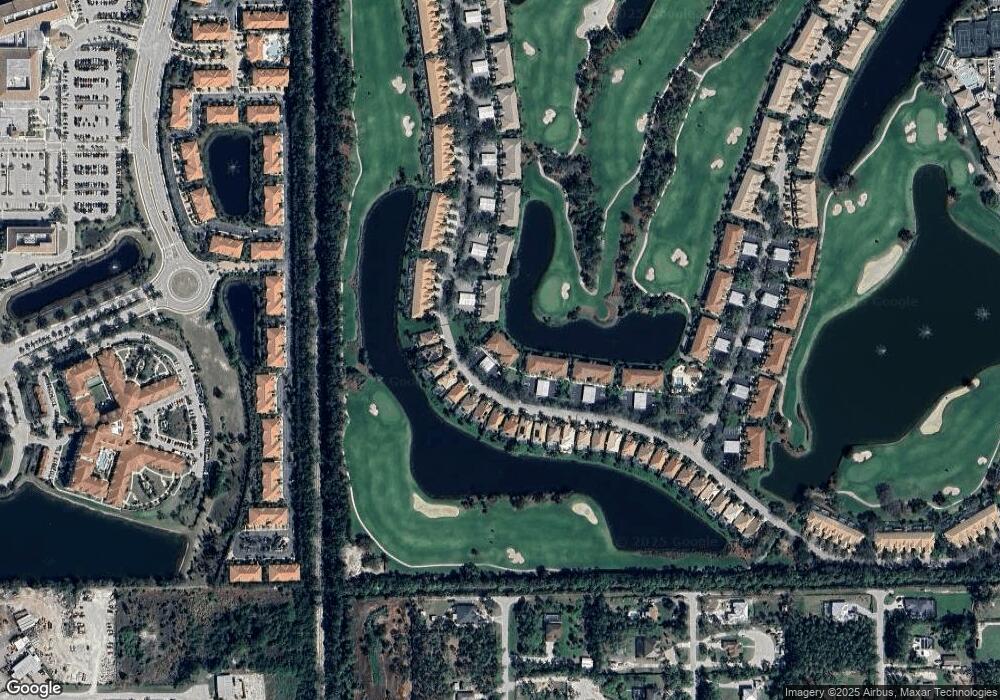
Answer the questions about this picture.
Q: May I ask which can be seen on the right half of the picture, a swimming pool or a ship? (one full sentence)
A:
There is a swimming pool on the right half of the picture.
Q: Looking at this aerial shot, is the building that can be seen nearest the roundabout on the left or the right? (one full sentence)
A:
It is on the left.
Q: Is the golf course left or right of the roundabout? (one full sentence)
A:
The golf course can be seen on the right of the roundabout.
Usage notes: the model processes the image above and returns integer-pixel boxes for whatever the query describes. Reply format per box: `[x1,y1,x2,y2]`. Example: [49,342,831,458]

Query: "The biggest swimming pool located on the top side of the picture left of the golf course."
[263,31,289,62]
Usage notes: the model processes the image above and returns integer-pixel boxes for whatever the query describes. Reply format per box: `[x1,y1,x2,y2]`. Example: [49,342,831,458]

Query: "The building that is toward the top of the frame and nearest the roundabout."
[208,235,244,259]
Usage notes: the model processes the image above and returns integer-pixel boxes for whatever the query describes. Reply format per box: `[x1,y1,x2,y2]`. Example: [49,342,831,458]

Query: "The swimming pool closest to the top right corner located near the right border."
[956,62,987,90]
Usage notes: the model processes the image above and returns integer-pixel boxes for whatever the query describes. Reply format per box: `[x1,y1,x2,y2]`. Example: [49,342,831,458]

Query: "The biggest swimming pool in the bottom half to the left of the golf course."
[94,450,117,480]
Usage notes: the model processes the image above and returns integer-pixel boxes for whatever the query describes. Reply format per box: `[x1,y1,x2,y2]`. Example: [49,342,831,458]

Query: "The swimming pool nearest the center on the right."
[672,366,703,391]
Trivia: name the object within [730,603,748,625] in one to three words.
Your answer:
house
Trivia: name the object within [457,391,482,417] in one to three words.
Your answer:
house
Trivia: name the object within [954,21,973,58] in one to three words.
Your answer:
tennis court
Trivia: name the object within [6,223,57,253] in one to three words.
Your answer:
building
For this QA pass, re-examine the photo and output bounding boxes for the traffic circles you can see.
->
[156,257,214,311]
